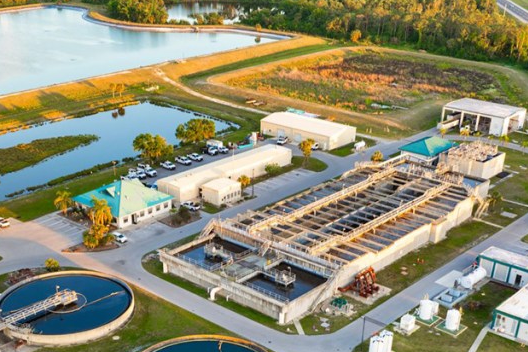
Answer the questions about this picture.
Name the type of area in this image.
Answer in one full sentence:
This image shows an industrial area.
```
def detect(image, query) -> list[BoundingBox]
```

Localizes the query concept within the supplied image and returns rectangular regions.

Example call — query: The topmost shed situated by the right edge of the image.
[441,99,528,135]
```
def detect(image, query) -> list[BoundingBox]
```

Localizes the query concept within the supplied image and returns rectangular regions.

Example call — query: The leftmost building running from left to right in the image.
[68,180,177,227]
